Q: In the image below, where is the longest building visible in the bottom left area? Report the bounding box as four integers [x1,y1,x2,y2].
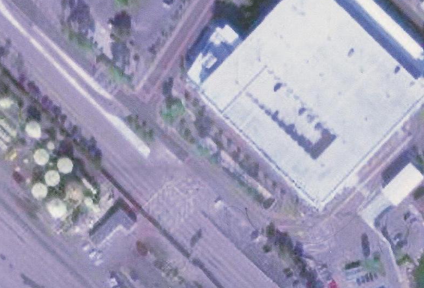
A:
[91,211,135,247]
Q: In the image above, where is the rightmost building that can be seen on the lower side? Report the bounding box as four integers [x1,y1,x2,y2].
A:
[384,163,423,206]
